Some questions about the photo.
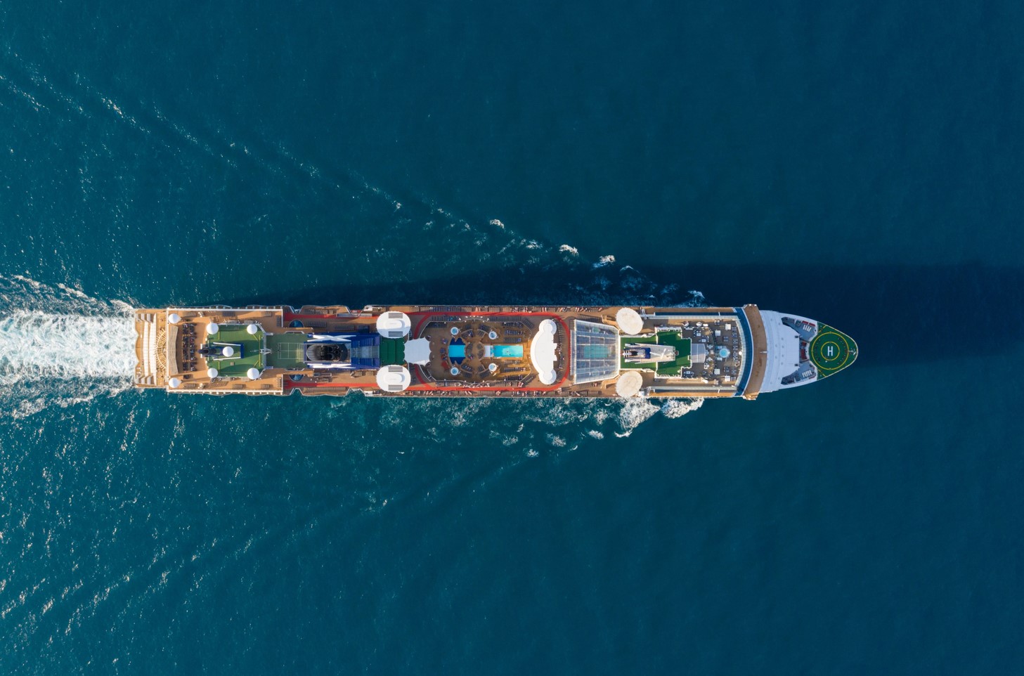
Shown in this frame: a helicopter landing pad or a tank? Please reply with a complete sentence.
Looking from above, you can make out a helicopter landing pad.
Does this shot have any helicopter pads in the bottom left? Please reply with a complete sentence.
No, no helicopter pad can be made out in the bottom left.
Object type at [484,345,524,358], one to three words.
swimming pool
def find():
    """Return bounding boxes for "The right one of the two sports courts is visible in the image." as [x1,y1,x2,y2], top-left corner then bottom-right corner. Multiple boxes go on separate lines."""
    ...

[266,334,304,369]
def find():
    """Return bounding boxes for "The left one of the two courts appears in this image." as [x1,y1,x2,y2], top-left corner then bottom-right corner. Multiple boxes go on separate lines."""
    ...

[210,325,264,377]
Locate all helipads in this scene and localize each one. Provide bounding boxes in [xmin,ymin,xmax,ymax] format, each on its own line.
[808,321,858,381]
